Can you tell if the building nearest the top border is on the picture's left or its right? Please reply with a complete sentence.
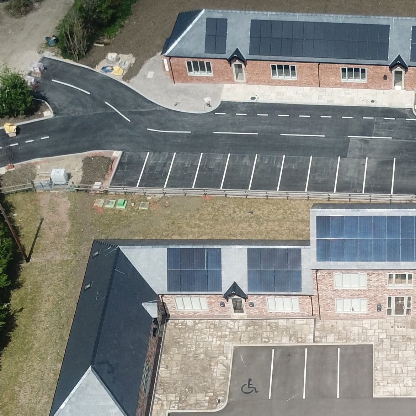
The building nearest the top border is on the right side of the image.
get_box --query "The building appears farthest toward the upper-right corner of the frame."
[163,10,416,89]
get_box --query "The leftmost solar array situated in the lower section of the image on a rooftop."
[166,248,222,292]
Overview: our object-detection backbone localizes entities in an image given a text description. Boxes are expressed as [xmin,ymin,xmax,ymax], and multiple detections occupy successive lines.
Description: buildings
[49,202,416,416]
[163,10,416,89]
